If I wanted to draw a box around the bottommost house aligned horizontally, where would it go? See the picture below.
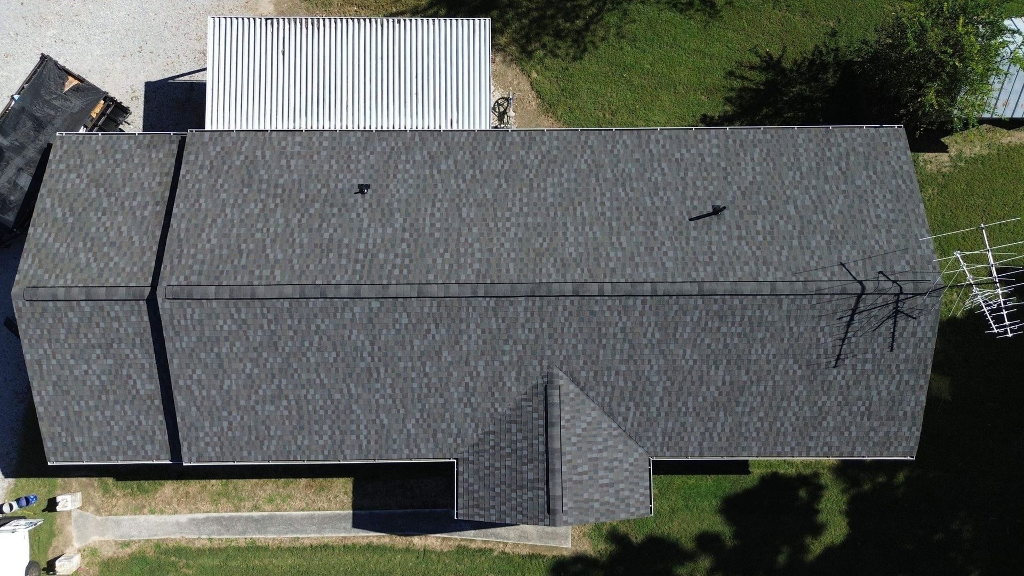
[12,123,945,526]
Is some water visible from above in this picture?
No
